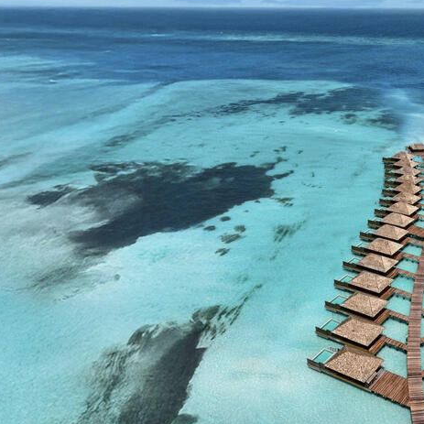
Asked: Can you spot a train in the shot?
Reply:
No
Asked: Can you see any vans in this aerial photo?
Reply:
No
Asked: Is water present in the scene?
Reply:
Yes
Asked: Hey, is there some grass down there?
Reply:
No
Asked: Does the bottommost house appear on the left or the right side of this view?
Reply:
right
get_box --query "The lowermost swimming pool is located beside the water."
[310,346,337,365]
